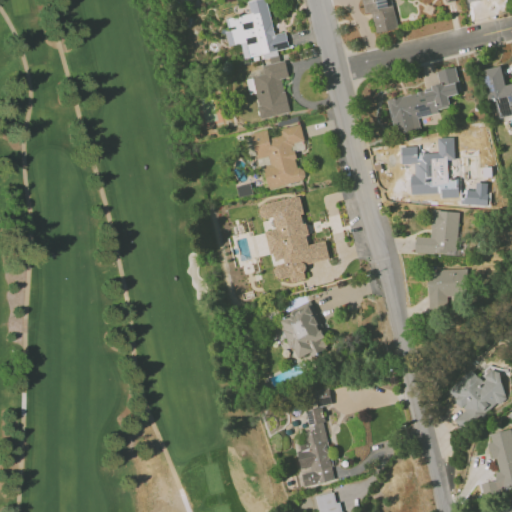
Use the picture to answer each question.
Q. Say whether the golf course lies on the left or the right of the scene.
left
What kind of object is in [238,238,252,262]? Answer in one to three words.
swimming pool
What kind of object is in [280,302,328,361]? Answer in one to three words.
house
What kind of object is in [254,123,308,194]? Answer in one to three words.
house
